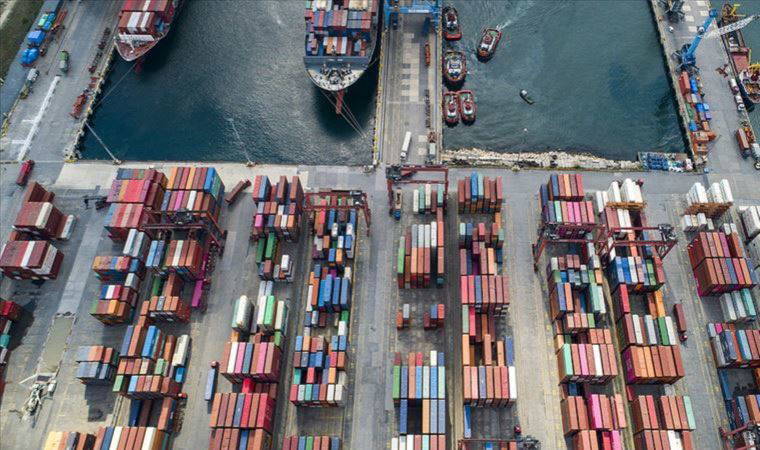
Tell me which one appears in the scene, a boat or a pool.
boat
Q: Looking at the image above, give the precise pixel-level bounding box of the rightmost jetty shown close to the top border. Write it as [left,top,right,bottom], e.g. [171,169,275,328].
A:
[646,0,760,169]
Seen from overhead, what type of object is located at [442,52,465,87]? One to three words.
boat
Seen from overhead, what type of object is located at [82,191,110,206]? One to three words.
work vehicle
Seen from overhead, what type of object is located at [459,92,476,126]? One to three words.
boat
